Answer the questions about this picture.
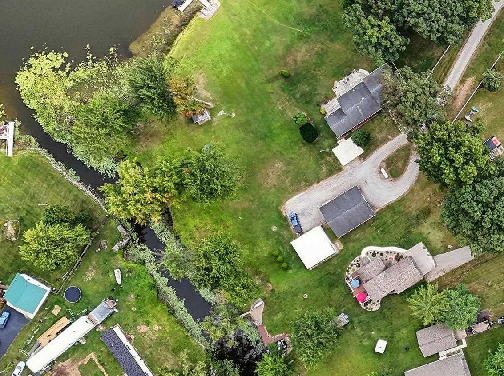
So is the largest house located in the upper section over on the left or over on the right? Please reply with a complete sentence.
The largest house located in the upper section appears in the right half of the scene.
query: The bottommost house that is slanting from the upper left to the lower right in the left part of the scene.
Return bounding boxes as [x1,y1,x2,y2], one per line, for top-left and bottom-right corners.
[101,326,153,376]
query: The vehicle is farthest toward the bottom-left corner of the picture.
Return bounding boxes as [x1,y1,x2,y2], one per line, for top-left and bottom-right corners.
[10,362,24,376]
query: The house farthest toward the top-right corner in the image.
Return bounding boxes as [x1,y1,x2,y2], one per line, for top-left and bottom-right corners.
[324,63,399,139]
